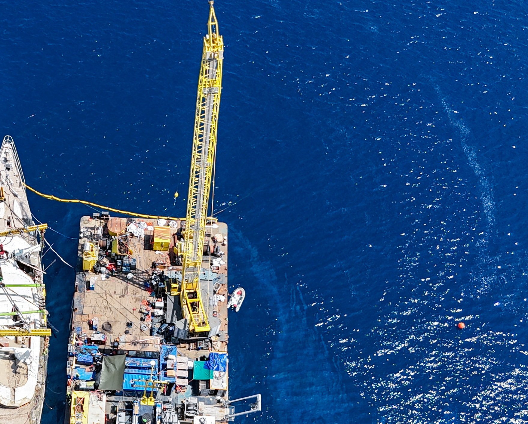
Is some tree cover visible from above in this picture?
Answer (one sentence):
No, there is no tree cover in the image.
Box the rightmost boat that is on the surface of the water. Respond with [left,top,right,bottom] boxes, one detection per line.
[227,287,246,311]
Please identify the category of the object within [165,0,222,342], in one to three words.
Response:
crane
